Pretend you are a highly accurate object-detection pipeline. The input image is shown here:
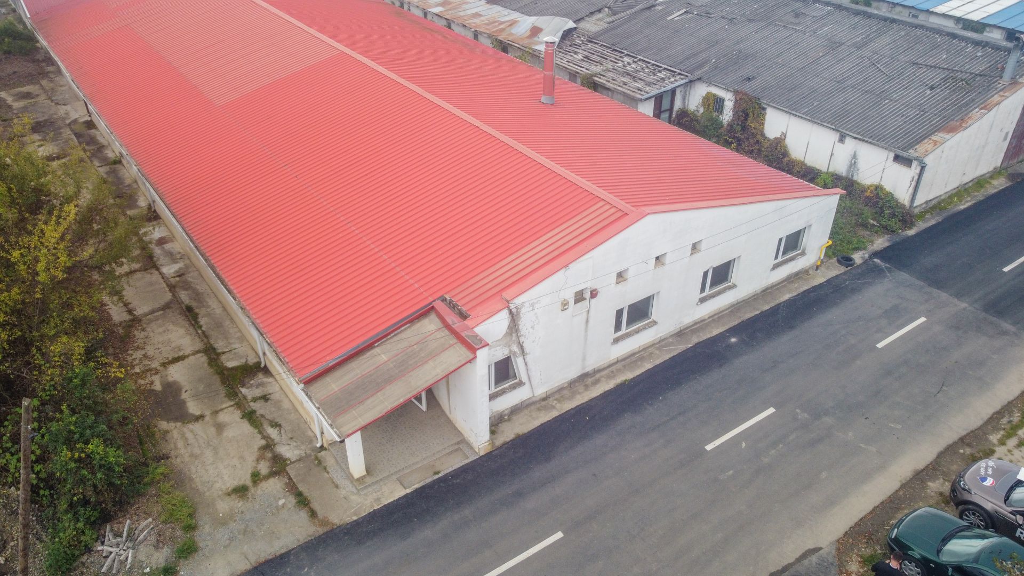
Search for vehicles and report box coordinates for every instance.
[950,455,1024,540]
[884,506,1024,576]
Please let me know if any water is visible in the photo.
No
